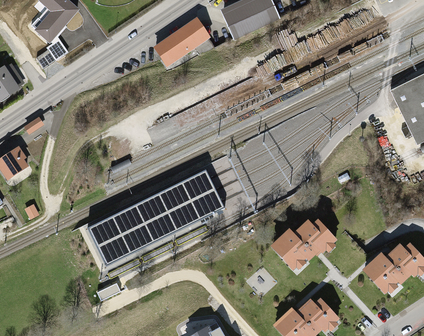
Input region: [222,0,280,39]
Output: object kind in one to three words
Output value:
shed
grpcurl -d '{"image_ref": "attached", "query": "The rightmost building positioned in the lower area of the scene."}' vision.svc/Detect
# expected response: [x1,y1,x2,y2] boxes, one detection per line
[364,242,424,300]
